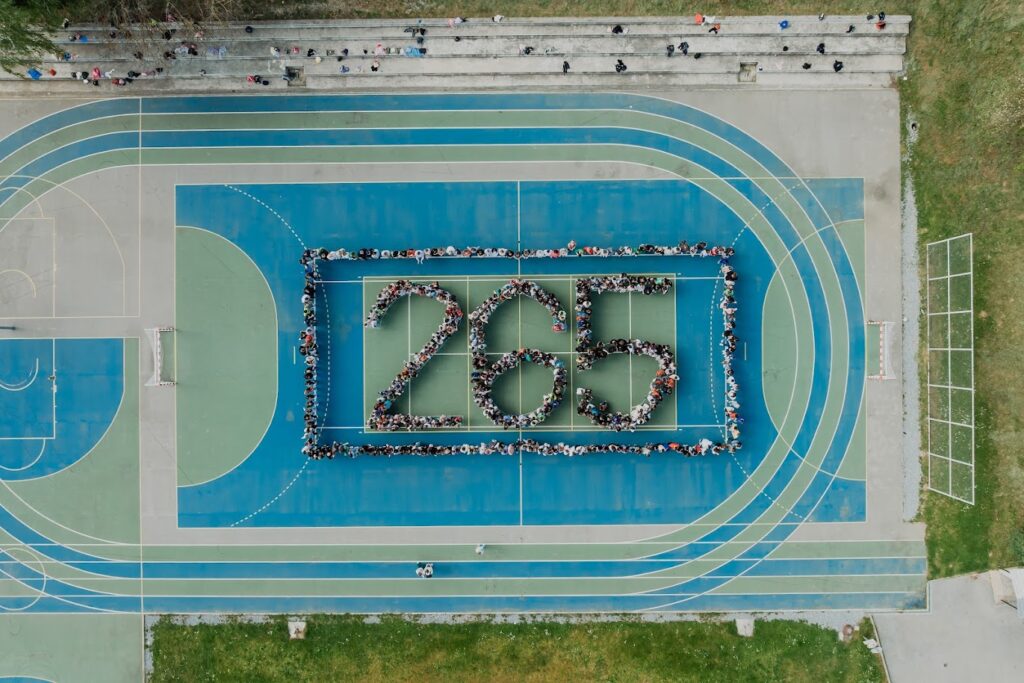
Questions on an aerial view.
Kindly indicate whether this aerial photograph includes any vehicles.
No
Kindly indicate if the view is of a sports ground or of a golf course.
sports ground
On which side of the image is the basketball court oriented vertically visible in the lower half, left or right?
left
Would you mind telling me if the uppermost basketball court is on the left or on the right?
left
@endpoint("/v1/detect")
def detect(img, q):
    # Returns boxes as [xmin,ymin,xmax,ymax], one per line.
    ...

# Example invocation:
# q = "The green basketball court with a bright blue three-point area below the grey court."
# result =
[0,336,144,683]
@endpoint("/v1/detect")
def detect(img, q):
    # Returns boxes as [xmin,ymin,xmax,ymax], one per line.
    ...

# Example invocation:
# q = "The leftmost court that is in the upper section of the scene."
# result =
[0,96,142,318]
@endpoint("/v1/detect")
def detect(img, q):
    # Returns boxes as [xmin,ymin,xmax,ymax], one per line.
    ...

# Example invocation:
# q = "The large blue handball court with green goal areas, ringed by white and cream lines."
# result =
[160,177,883,529]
